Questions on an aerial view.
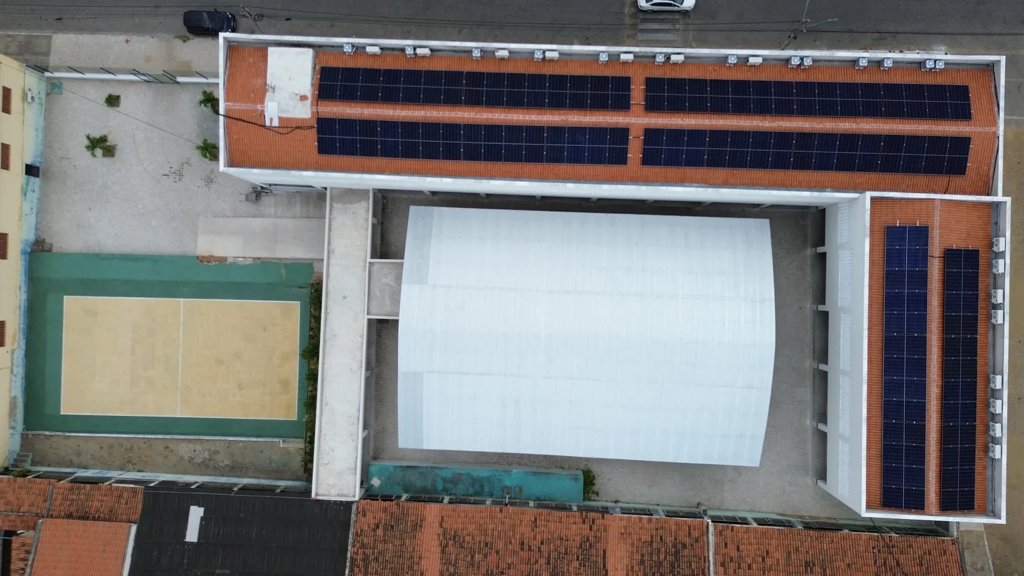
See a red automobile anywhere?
No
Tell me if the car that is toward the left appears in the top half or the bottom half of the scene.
top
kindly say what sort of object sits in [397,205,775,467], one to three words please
building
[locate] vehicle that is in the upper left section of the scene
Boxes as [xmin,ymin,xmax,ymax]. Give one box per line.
[180,10,239,39]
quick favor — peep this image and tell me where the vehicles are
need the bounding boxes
[636,0,698,14]
[180,10,239,39]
